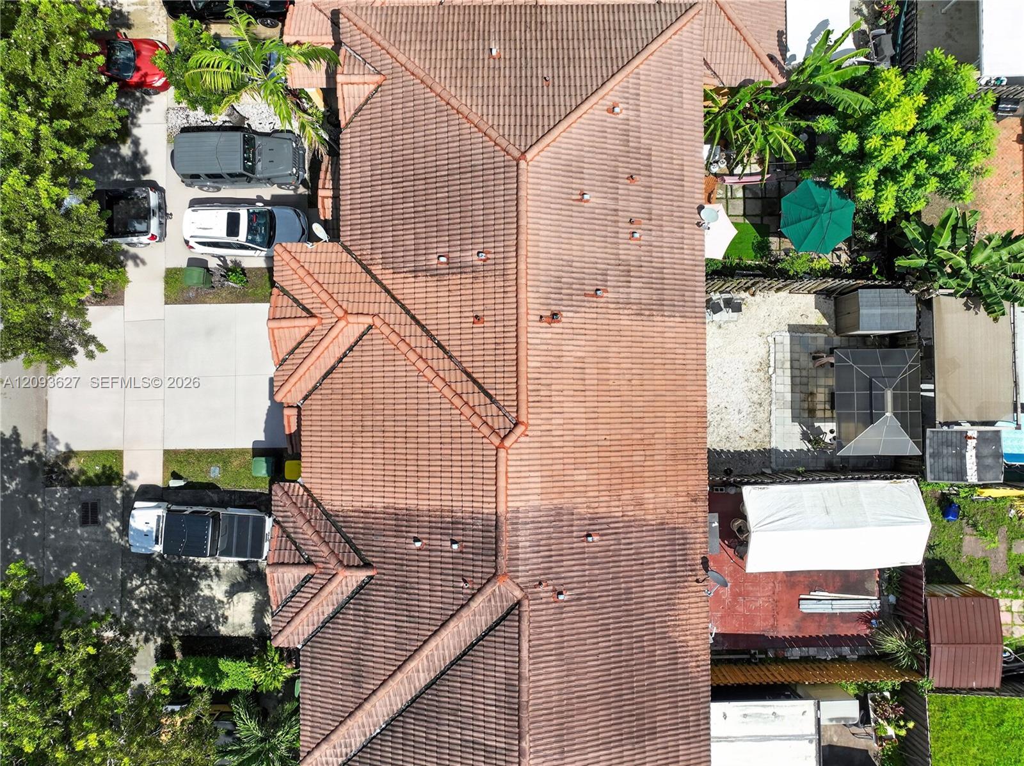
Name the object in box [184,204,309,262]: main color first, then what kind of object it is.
white car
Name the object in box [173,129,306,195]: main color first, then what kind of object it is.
gray car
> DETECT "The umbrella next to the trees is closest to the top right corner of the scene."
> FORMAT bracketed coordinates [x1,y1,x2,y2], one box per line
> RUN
[778,181,853,255]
